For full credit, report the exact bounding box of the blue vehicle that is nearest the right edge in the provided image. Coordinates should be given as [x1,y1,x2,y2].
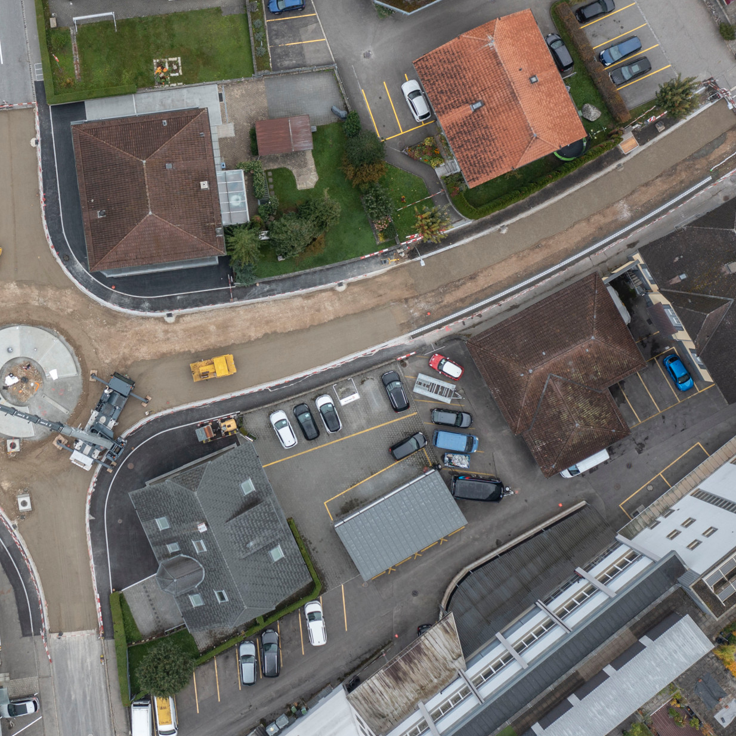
[663,352,691,392]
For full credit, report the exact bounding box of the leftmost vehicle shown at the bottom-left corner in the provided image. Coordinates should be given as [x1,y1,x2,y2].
[0,694,41,718]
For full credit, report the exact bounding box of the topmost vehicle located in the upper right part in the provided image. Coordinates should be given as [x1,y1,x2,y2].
[573,0,616,26]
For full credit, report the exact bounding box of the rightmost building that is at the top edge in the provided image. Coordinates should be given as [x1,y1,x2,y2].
[413,8,588,188]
